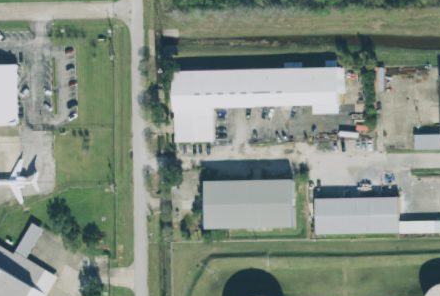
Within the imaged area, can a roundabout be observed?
No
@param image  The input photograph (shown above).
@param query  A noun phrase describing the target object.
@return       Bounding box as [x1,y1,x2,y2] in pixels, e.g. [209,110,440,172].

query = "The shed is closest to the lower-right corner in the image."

[399,220,440,234]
